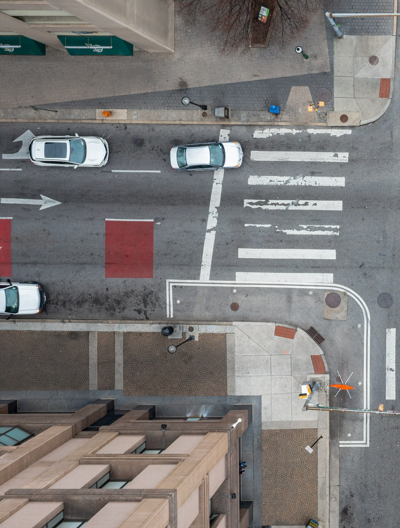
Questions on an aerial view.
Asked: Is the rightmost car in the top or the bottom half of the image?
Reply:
top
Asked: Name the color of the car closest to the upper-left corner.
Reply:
white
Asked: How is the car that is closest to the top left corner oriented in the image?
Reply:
horizontally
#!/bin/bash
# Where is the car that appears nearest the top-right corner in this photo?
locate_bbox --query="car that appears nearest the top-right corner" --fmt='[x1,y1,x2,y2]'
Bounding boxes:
[169,140,245,172]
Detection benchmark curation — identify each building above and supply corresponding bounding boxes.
[0,416,238,528]
[0,0,173,57]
